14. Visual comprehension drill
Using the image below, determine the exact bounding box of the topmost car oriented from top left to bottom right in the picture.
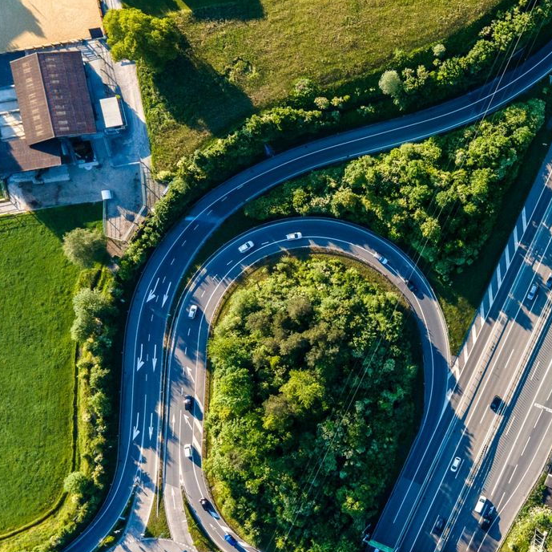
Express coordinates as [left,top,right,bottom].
[372,253,387,266]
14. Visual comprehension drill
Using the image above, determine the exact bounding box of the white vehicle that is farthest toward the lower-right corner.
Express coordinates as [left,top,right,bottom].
[473,496,486,516]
